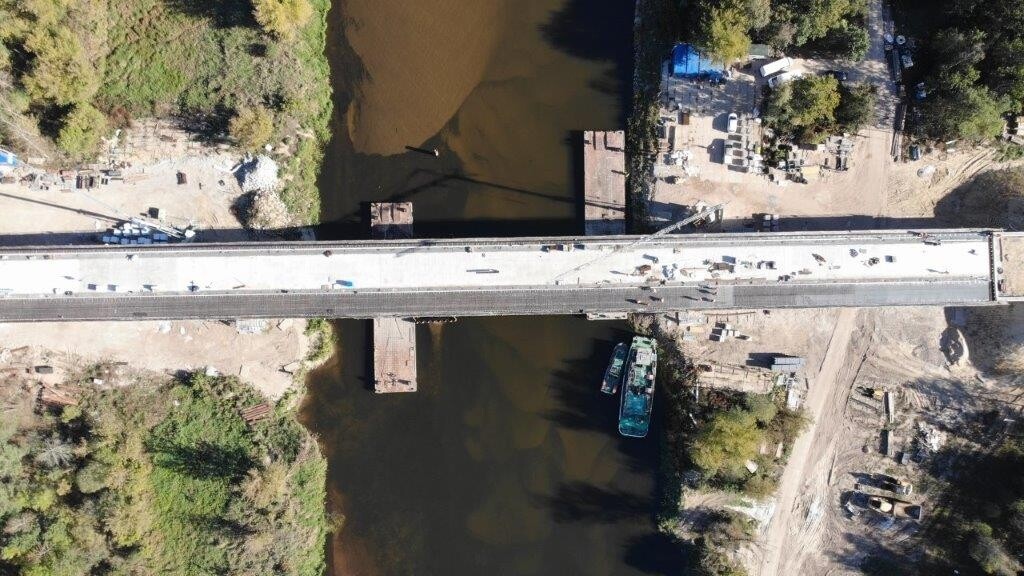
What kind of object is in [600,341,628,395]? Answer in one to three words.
boat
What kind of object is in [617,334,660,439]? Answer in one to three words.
boat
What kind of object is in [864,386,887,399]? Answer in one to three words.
vehicle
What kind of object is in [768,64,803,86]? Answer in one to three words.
vehicle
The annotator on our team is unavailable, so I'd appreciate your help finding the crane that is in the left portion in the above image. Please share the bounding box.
[77,187,197,243]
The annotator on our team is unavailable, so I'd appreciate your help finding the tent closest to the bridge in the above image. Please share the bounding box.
[0,147,20,172]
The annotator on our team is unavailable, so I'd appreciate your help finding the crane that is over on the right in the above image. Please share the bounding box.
[556,199,731,279]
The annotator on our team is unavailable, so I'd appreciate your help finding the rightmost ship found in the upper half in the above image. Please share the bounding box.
[583,131,628,236]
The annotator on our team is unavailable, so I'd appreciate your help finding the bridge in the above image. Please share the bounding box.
[0,227,1024,322]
